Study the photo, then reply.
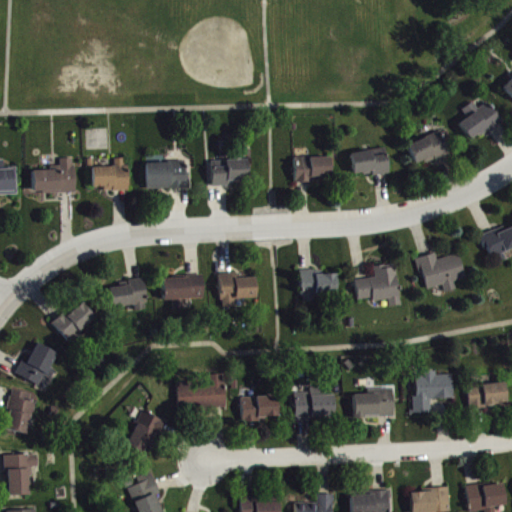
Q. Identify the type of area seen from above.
residential area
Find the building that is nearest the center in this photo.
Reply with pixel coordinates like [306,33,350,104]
[216,272,260,307]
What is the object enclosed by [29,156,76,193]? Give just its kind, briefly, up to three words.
house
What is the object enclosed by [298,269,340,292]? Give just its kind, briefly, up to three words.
house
